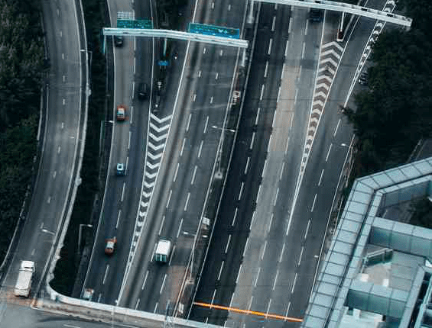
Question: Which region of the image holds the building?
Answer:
bottom right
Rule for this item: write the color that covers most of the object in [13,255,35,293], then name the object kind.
white truck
